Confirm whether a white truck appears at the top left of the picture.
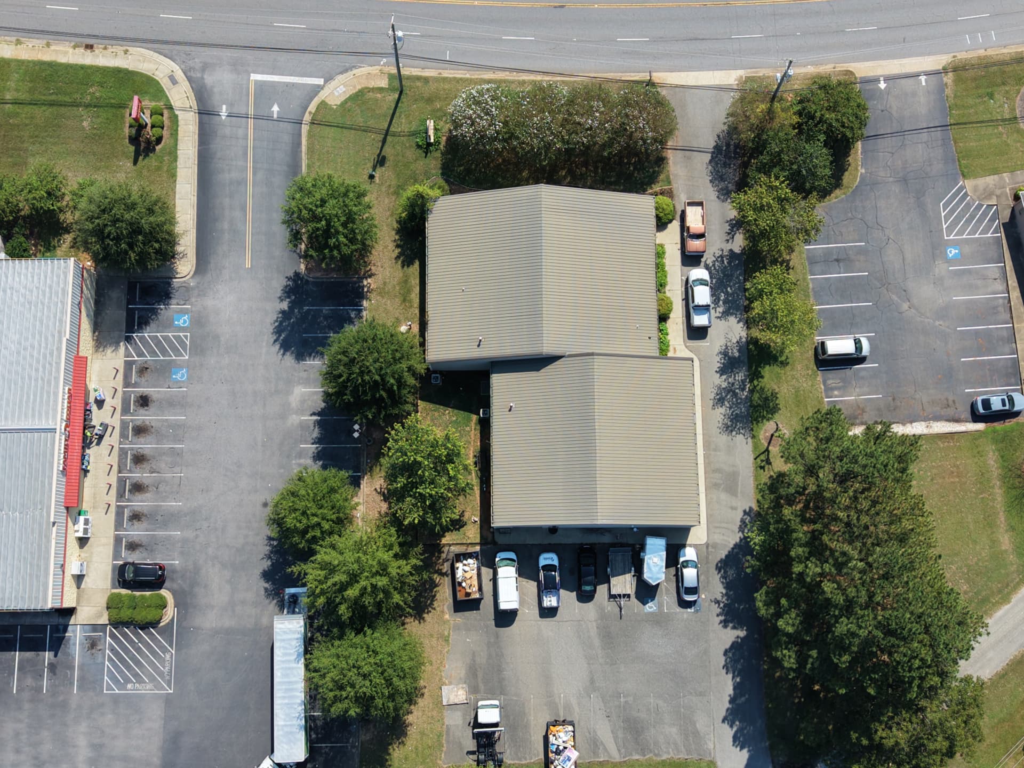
No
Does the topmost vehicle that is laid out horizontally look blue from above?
No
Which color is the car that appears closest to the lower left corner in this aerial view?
black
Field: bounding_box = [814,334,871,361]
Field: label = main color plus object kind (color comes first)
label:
white vehicle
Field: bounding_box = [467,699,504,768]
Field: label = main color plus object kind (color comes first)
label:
white truck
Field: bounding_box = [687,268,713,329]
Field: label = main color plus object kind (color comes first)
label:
white truck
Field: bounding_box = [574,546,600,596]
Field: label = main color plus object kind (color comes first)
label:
black car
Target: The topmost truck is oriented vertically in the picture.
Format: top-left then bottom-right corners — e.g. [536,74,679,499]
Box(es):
[684,200,709,256]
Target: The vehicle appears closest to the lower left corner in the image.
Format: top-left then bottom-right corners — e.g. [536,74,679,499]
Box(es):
[117,561,169,588]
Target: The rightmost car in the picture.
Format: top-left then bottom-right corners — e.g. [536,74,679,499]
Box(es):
[970,391,1024,419]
